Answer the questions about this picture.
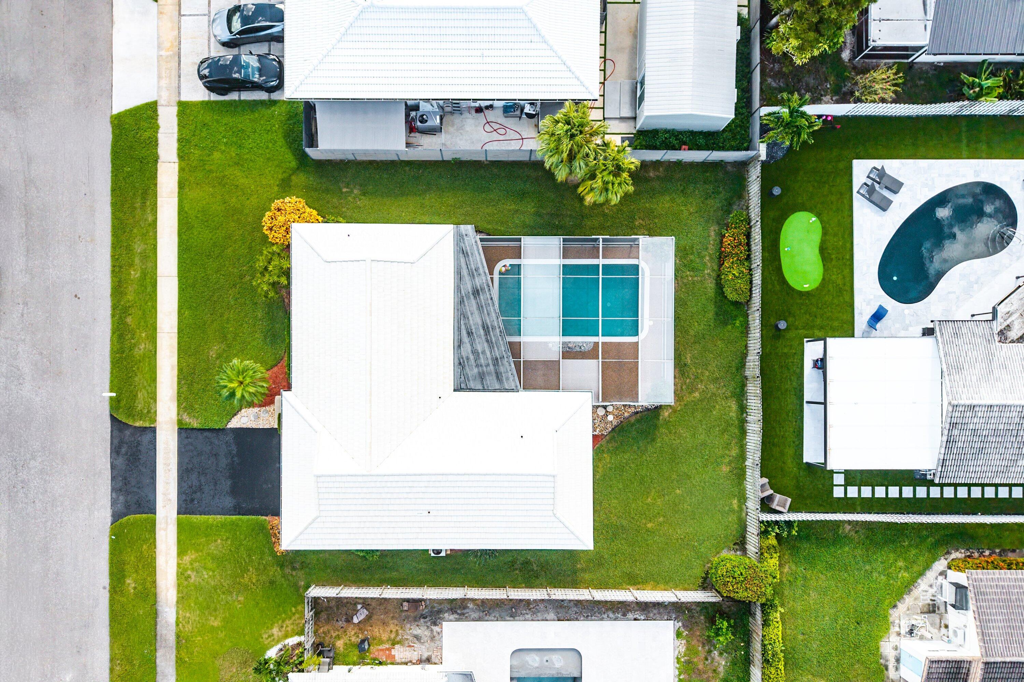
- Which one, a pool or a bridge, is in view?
pool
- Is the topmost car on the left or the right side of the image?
left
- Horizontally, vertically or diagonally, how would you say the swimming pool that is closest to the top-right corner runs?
diagonally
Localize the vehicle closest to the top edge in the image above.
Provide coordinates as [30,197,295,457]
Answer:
[210,3,284,48]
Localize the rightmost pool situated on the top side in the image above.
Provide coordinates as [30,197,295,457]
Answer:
[879,181,1018,304]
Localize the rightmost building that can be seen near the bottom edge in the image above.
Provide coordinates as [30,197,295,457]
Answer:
[900,569,1024,682]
